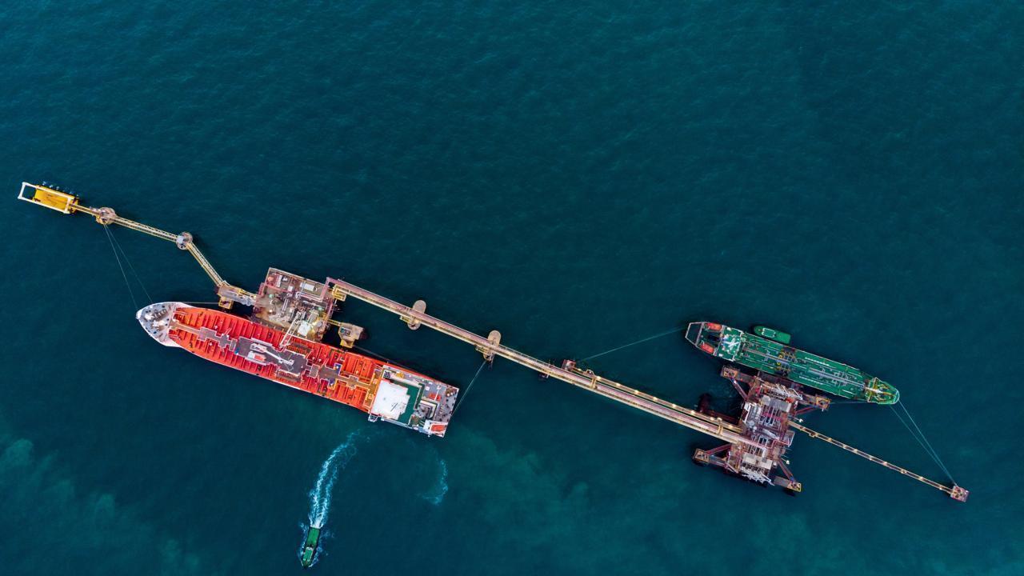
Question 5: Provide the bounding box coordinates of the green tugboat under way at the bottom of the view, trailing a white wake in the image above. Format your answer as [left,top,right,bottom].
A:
[302,527,322,569]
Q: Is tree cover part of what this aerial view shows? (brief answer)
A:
No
